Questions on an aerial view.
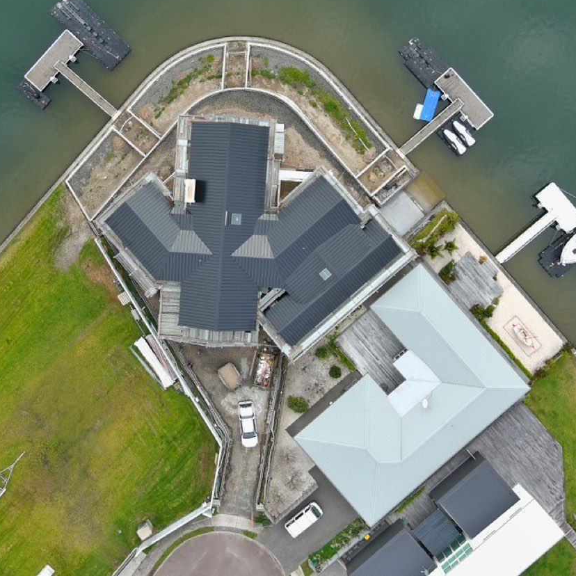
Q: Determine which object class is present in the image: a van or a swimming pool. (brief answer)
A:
van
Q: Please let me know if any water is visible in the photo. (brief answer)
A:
Yes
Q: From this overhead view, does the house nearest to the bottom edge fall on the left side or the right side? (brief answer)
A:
right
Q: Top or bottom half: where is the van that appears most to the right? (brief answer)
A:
bottom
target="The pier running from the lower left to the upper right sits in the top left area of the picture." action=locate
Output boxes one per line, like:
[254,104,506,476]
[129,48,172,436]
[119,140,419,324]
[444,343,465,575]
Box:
[24,29,84,91]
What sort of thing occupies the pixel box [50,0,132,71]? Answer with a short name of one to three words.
pier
